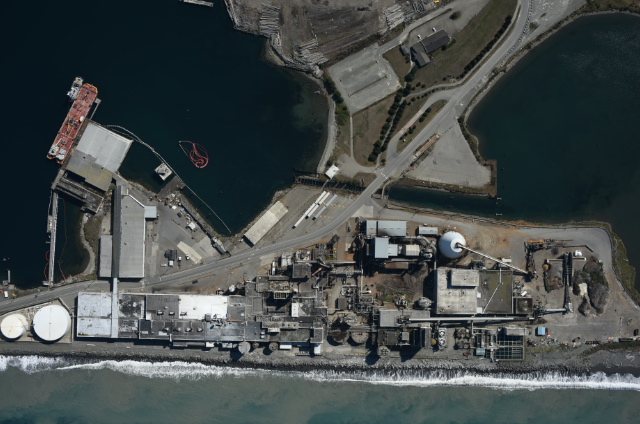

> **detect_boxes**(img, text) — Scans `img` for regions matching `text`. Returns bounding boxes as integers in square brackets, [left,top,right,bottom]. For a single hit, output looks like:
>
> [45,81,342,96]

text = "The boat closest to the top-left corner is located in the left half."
[71,77,85,99]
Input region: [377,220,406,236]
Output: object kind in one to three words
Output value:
house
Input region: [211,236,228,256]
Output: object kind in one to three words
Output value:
work vehicle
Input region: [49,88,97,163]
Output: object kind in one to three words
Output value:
ship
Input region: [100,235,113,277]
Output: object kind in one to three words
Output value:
shed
